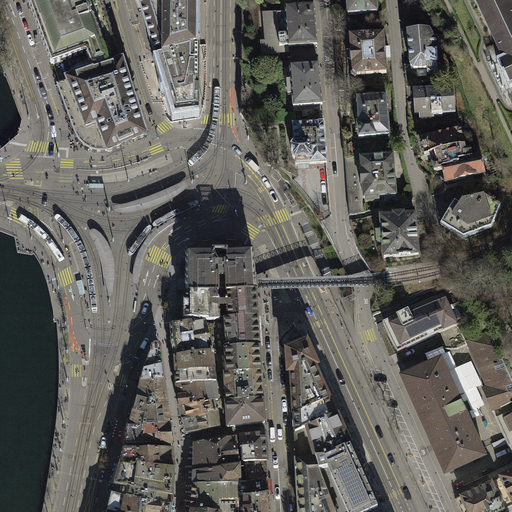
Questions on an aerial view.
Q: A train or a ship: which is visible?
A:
train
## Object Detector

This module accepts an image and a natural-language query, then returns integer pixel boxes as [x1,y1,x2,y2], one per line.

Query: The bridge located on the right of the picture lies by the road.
[256,272,386,292]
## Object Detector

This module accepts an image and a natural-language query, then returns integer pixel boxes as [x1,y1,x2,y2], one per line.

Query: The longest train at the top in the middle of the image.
[189,86,220,167]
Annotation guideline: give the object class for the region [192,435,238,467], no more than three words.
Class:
building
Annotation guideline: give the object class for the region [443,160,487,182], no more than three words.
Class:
house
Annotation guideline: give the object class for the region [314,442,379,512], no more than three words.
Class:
building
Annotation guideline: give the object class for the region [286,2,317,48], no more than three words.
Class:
house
